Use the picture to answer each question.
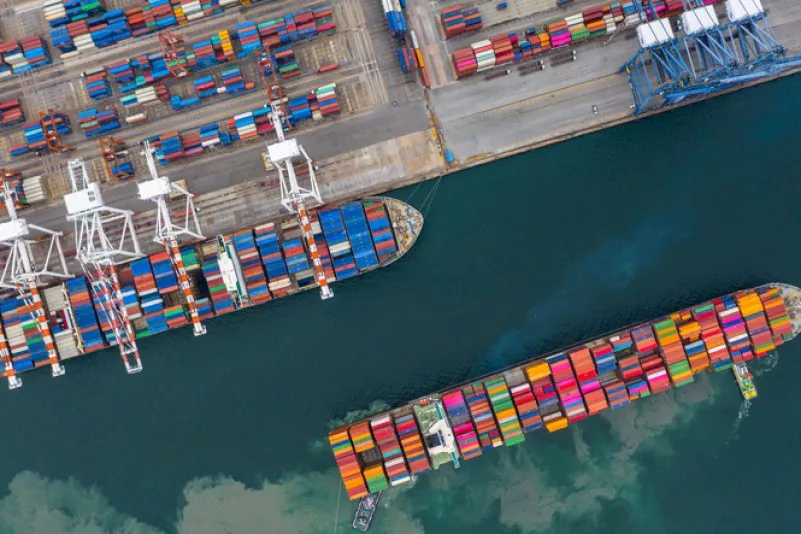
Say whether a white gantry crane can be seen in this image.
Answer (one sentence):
Yes, a white gantry crane appears in the view.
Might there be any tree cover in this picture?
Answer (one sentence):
No, there is no tree cover in the image.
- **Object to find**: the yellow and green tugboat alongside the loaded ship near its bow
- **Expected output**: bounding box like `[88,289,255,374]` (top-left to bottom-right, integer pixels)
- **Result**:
[733,363,757,401]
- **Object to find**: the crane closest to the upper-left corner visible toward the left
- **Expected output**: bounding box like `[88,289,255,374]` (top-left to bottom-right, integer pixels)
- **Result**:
[41,109,86,159]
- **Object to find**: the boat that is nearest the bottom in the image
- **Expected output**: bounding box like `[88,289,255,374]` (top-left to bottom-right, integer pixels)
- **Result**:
[352,490,383,533]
